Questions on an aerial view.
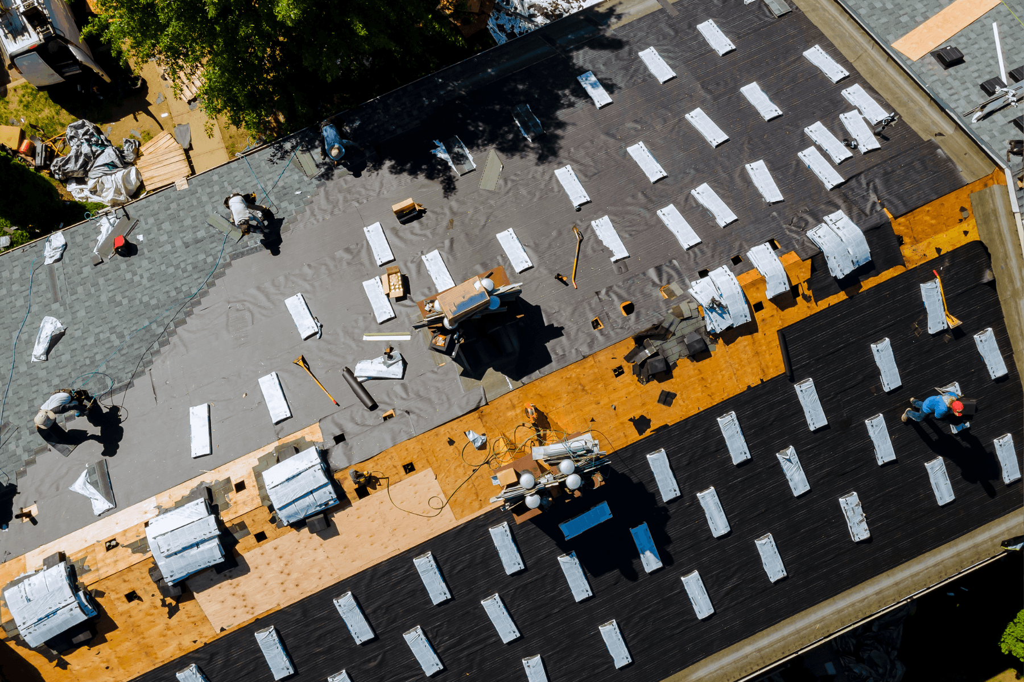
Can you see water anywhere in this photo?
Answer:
No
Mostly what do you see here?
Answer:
buildings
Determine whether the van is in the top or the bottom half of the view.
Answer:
top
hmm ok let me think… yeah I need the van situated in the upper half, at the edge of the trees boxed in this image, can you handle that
[0,0,112,102]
